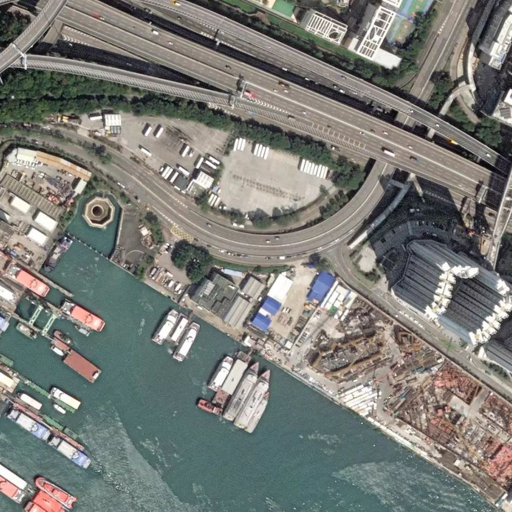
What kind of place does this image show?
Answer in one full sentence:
This image shows a port.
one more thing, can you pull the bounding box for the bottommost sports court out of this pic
[386,16,416,45]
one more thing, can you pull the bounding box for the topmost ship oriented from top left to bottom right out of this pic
[6,266,50,298]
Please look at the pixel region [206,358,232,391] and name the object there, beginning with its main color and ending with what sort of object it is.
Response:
white ship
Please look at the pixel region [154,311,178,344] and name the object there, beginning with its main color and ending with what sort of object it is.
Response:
white ship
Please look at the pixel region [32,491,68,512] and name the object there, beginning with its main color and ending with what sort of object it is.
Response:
red ship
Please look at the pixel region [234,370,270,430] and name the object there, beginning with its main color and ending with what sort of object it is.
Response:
white vessel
